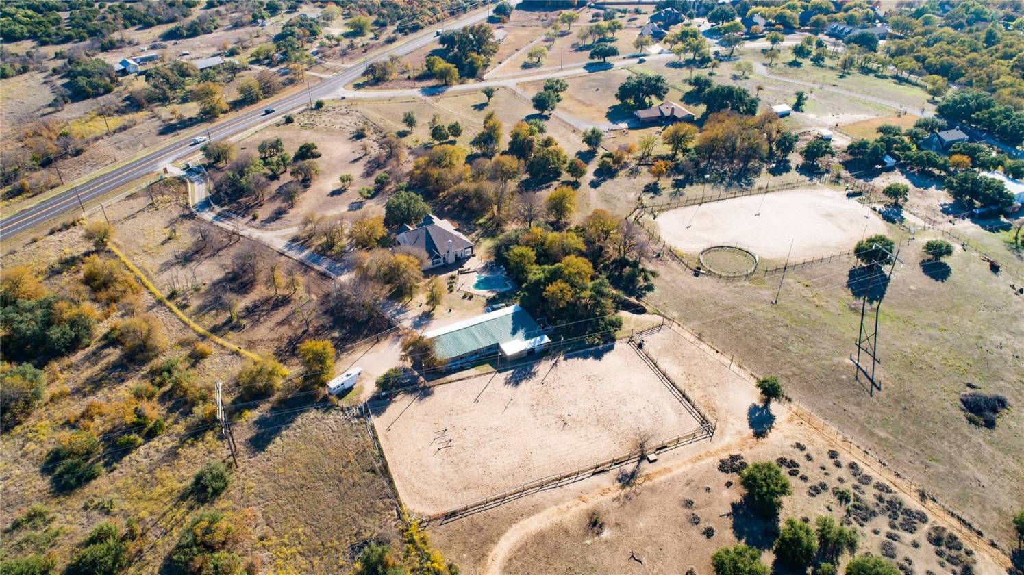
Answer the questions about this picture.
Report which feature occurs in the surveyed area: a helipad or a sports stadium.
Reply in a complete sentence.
There is a sports stadium in the scene.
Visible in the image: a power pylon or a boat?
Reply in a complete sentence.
This aerial view contains a power pylon.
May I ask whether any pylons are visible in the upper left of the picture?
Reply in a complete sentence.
No, I see no pylon in the upper left of the picture.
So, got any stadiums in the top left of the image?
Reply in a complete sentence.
No, no stadium appears in the top left of the image.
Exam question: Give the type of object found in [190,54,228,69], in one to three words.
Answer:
shed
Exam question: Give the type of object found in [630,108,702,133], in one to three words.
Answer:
house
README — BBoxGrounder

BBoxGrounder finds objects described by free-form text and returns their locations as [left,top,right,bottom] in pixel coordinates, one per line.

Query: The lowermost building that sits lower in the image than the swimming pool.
[426,306,551,369]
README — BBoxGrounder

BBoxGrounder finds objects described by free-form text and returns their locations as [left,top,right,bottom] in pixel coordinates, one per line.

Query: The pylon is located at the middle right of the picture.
[865,241,903,307]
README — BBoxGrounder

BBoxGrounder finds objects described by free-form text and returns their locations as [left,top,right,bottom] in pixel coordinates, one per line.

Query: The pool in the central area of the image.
[472,274,511,290]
